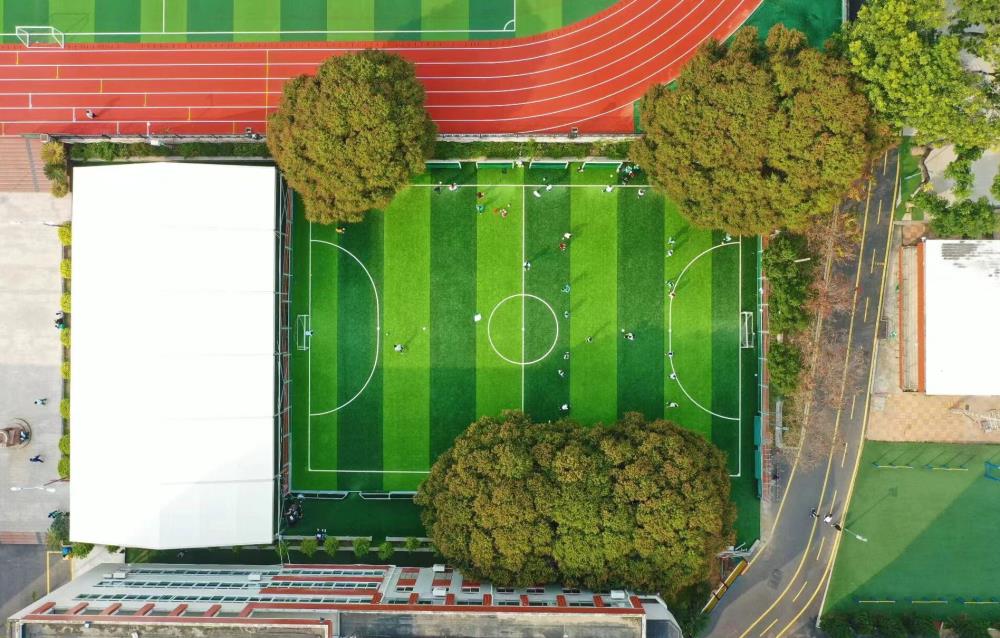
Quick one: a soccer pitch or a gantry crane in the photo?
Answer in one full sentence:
The image shows a soccer pitch.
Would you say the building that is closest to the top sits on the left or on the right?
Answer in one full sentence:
You can find the building that is closest to the top on the right side of the picture.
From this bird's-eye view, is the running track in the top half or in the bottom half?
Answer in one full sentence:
It is in the top half that the running track appears.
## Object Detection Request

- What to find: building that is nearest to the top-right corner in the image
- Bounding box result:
[883,236,1000,396]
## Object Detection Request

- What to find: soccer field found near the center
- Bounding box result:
[290,166,758,492]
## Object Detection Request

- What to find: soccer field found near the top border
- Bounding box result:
[0,0,624,44]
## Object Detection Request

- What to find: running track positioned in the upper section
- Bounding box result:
[0,0,767,141]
